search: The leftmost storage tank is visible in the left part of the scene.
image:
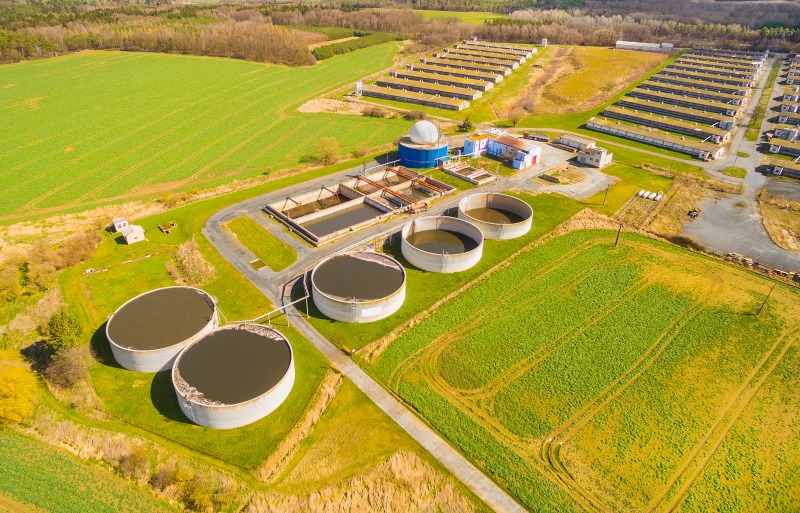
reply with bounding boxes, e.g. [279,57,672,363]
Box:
[105,286,224,372]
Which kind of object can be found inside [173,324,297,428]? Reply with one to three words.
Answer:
storage tank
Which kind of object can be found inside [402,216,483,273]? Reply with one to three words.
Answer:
storage tank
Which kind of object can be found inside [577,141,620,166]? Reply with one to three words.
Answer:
building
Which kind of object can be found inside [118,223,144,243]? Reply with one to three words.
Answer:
shed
